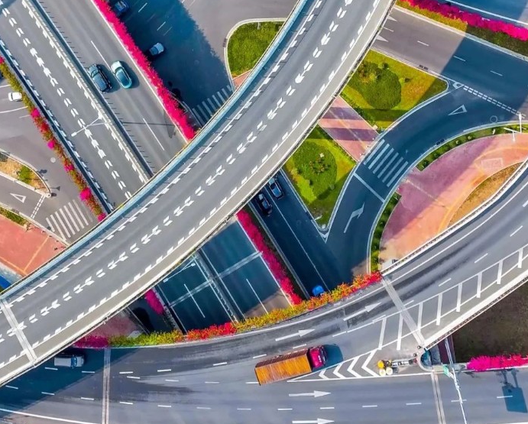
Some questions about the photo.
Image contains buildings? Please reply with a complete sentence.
No, there isn't any building down there.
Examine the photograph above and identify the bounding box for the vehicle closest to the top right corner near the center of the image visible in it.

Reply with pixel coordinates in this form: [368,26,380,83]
[266,176,287,205]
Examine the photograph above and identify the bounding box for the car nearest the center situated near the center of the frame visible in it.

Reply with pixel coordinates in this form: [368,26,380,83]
[251,191,274,220]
